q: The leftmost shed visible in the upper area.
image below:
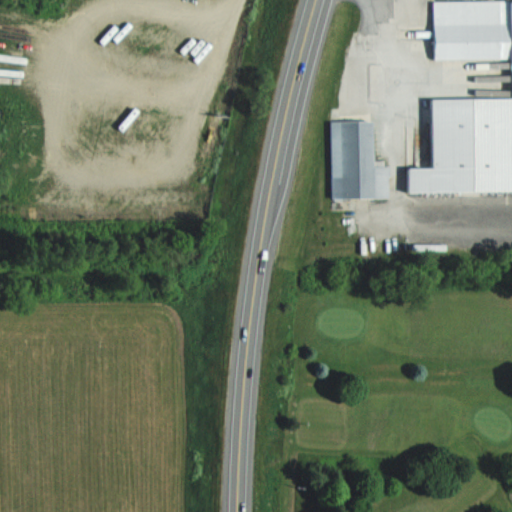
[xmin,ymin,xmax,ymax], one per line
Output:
[331,122,388,198]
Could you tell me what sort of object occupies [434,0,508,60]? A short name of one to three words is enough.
building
